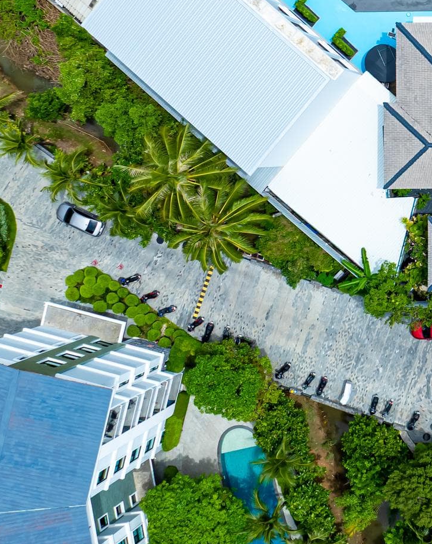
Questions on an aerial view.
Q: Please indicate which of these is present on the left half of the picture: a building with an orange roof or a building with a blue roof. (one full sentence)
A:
Visible on the left half of the picture is a building with a blue roof.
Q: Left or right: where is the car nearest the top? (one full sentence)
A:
The car nearest the top sits on the left side.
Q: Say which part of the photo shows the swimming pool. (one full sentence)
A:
Look in the bottom portion of the view to spot the swimming pool.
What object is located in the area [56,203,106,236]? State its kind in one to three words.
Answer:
car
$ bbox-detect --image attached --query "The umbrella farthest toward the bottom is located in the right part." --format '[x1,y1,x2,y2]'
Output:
[366,48,395,80]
